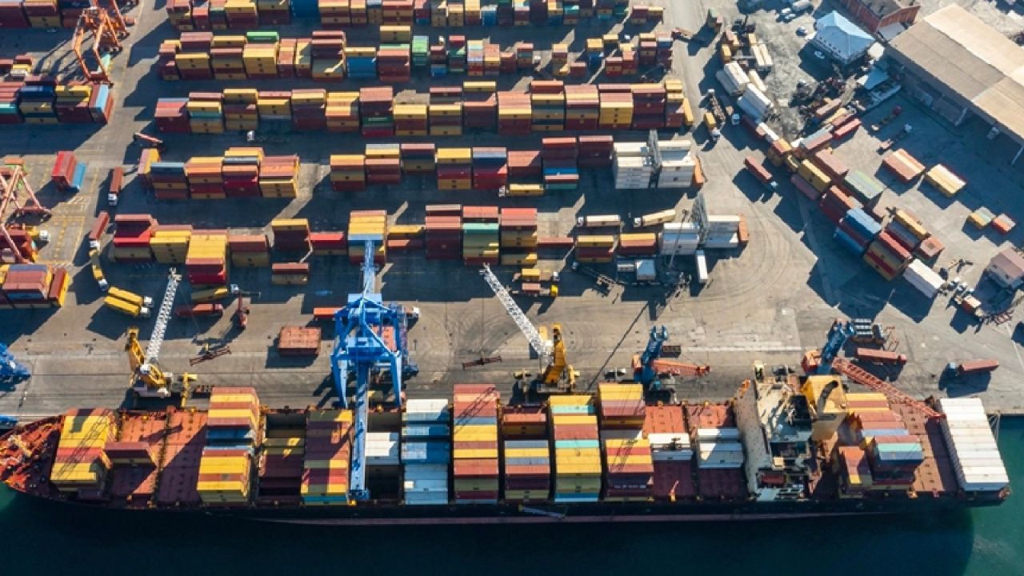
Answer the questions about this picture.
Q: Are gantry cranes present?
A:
Yes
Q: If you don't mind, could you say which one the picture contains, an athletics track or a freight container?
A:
freight container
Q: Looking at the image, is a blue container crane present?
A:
Yes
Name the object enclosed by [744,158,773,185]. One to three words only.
shipping container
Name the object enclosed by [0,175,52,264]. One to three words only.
container crane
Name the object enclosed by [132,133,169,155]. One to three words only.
work vehicle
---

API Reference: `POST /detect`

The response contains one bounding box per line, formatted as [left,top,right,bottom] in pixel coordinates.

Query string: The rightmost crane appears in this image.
[788,320,946,422]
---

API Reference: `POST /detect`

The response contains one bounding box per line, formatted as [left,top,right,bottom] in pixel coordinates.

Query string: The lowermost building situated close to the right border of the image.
[986,252,1024,301]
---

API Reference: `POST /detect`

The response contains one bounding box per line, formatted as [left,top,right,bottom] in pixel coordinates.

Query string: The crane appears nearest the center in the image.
[480,264,587,400]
